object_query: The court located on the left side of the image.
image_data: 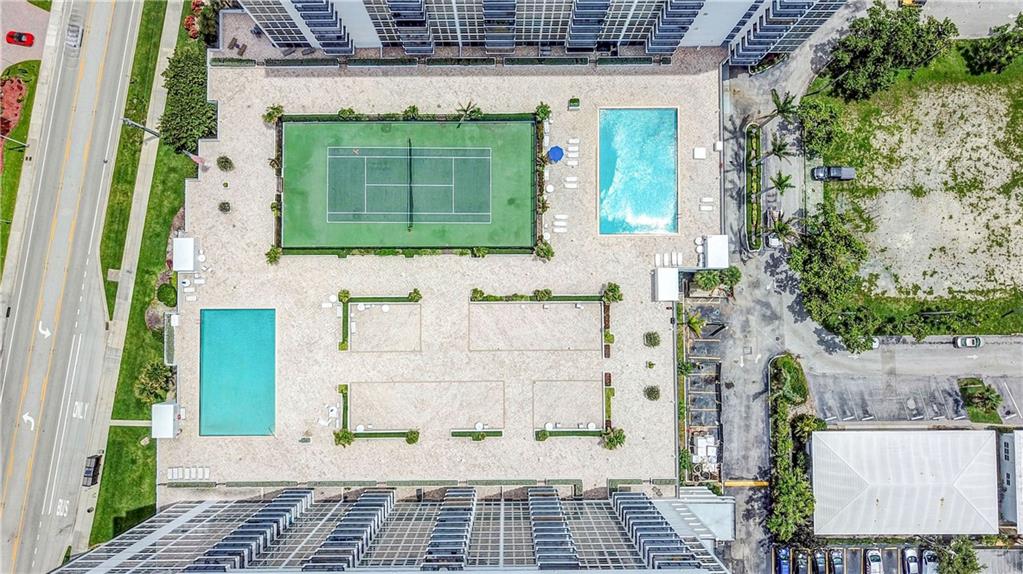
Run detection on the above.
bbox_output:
[276,116,536,249]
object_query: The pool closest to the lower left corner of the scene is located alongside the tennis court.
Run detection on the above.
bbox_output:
[198,306,278,438]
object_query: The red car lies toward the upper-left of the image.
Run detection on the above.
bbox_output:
[7,32,37,48]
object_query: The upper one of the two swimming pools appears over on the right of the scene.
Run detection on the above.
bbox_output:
[596,106,681,236]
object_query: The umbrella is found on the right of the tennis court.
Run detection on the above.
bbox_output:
[548,143,564,159]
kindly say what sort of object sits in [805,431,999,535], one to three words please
building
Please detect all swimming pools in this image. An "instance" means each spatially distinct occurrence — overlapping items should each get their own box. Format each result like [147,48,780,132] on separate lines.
[198,306,278,438]
[596,106,681,236]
